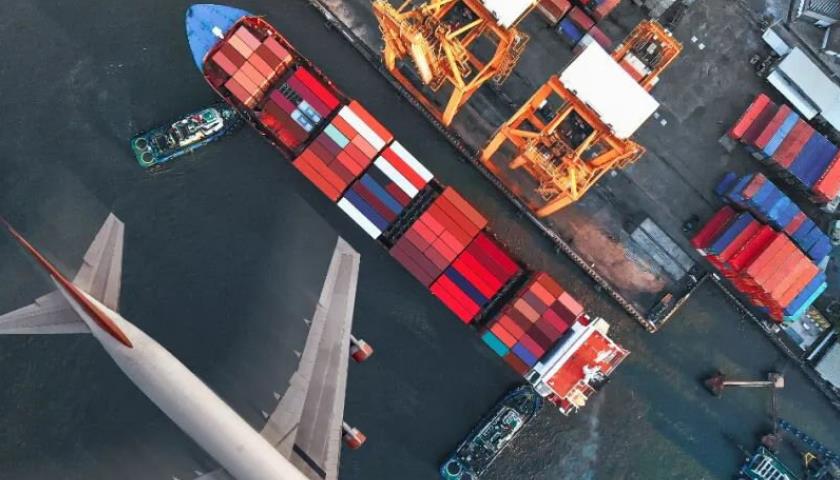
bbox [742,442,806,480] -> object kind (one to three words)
ship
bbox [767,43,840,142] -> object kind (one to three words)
building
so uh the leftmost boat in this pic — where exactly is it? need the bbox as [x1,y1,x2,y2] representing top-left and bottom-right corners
[137,112,241,168]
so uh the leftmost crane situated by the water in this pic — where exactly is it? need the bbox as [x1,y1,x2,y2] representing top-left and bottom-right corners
[362,0,543,130]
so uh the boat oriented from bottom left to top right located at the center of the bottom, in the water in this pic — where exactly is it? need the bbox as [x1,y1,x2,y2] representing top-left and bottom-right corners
[439,393,530,480]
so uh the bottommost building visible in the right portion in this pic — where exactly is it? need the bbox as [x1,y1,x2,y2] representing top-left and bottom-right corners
[810,336,840,391]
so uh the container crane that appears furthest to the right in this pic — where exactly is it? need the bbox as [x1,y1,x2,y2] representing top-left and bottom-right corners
[475,11,687,217]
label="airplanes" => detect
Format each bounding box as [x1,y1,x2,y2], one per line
[0,210,377,480]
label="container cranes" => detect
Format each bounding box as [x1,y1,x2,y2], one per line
[362,0,543,130]
[475,11,687,217]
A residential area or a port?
port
